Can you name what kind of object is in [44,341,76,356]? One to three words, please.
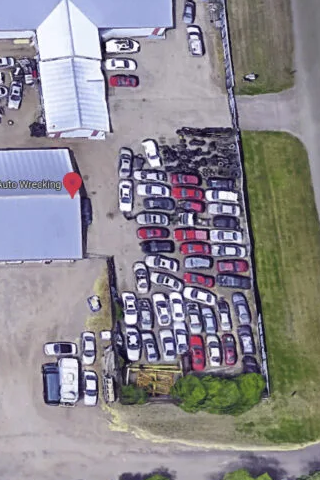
car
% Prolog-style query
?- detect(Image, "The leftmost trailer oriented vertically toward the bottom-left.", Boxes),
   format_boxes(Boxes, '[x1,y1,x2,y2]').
[40,362,63,407]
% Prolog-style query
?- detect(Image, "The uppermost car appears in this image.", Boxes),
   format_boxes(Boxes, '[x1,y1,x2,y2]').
[181,0,197,24]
